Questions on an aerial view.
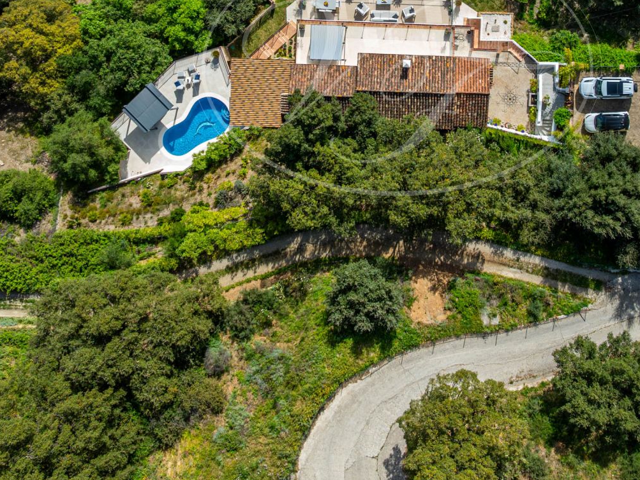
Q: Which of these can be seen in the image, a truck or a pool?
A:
pool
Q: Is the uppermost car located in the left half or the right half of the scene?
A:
right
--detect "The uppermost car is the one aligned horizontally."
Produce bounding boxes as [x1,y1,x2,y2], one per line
[579,74,640,103]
